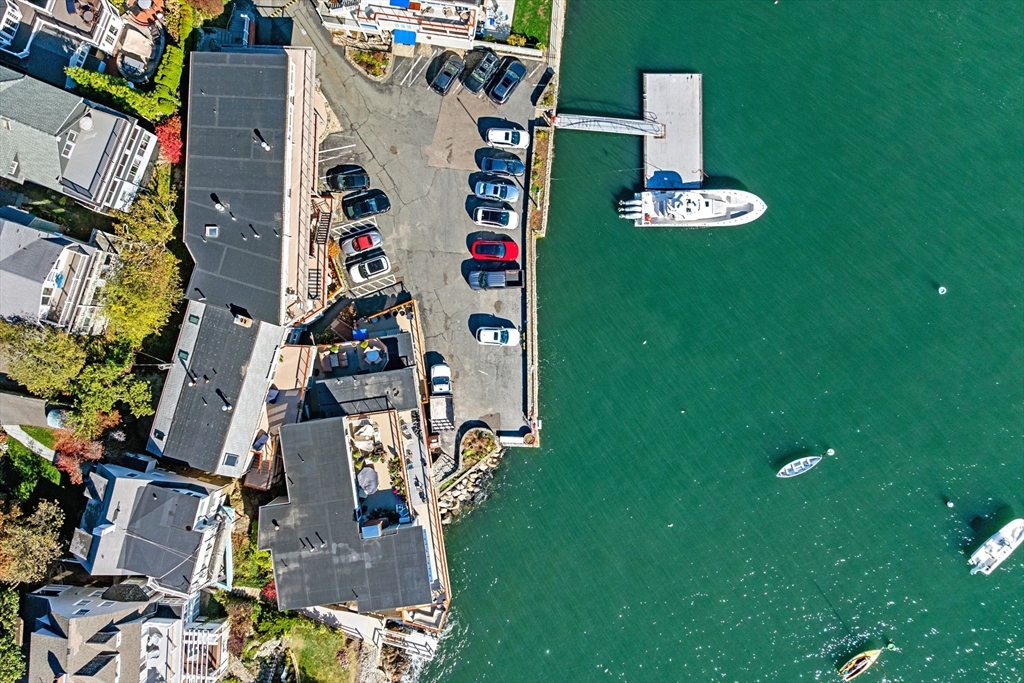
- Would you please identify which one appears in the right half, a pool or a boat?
boat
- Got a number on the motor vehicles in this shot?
16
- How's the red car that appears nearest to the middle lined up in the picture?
from left to right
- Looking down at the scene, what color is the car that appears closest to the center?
white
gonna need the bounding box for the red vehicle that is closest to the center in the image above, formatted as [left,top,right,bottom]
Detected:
[472,239,518,262]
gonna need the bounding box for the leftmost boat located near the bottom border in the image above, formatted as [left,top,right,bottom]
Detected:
[839,649,894,683]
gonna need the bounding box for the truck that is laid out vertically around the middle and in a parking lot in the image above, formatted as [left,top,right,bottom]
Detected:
[429,365,453,434]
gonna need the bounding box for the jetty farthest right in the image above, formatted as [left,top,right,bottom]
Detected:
[642,72,704,189]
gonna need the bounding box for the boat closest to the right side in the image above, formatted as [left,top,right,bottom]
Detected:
[971,515,1024,576]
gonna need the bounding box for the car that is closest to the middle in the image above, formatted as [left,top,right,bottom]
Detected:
[475,326,521,348]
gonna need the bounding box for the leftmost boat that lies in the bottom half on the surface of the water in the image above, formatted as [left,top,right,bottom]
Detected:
[776,456,824,478]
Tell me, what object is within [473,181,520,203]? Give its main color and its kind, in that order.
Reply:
blue car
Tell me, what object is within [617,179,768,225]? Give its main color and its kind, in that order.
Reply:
white boat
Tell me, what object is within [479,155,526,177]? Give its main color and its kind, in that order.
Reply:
blue car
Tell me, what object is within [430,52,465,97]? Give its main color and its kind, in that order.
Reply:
gray car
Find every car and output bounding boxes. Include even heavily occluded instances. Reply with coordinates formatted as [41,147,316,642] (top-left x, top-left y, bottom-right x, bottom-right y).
[490,59,526,106]
[342,192,392,220]
[472,207,519,229]
[472,239,518,262]
[45,408,92,431]
[473,181,520,203]
[479,155,526,177]
[341,231,384,257]
[485,127,530,150]
[326,170,373,193]
[430,52,465,97]
[475,326,521,348]
[348,256,392,282]
[463,47,499,96]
